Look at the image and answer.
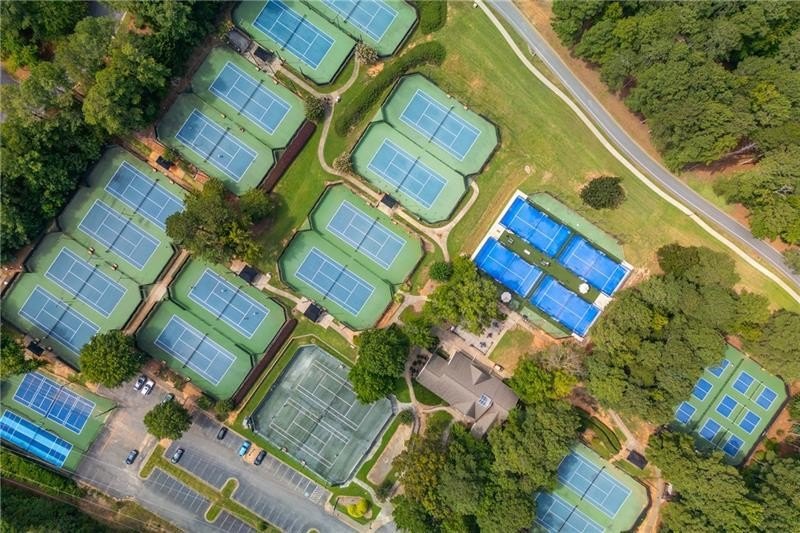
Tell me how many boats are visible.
0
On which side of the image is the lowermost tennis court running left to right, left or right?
right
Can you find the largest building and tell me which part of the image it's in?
bottom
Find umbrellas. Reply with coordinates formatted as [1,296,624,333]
[501,292,511,302]
[579,283,589,293]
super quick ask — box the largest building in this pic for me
[416,346,520,442]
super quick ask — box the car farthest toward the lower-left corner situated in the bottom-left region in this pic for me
[126,449,139,464]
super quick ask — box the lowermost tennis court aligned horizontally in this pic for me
[520,483,625,533]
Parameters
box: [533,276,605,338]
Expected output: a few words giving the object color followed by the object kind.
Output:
blue sports court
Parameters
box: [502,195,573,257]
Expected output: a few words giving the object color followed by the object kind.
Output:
blue sports court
